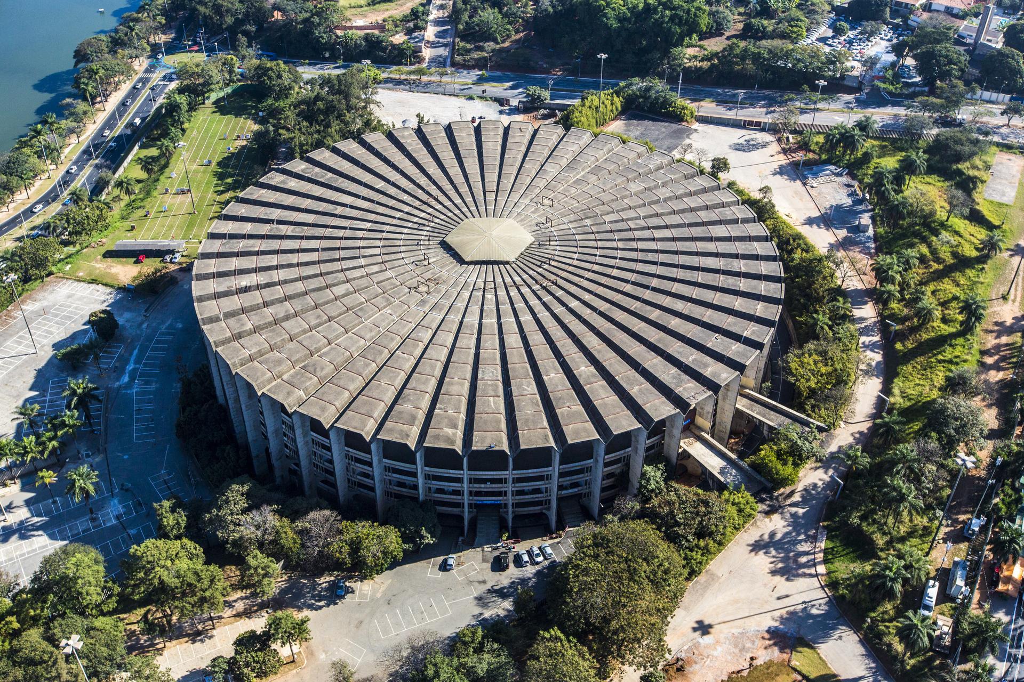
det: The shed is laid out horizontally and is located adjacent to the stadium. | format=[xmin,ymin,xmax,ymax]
[110,240,196,259]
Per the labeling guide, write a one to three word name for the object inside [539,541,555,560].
car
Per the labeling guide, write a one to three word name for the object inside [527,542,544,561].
car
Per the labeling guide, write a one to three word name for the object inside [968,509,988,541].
vehicle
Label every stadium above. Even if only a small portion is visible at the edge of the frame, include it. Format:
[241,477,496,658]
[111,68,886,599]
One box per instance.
[191,119,785,563]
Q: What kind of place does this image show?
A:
sports ground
